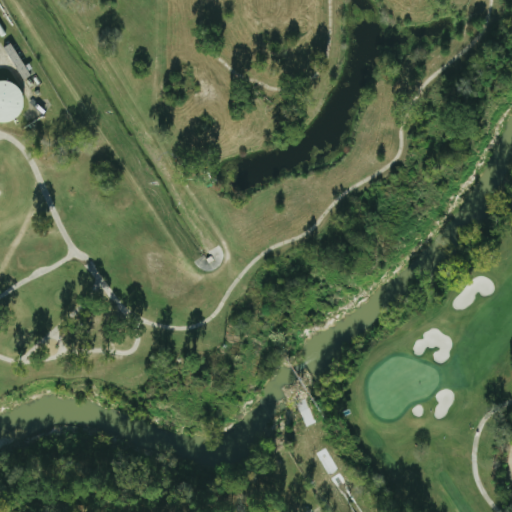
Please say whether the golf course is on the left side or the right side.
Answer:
right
